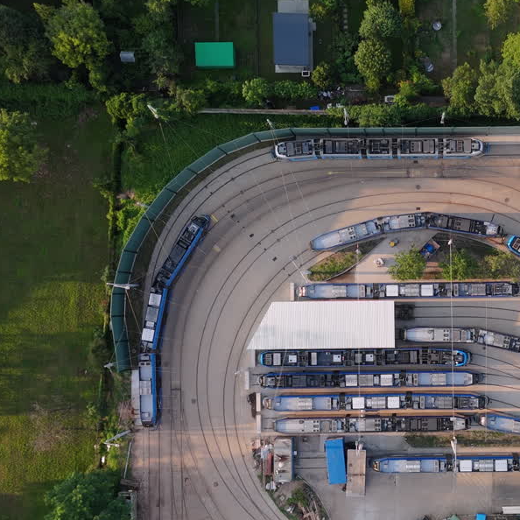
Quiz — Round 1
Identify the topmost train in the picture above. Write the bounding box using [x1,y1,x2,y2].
[275,138,485,160]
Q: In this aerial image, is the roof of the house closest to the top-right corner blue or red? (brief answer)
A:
blue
